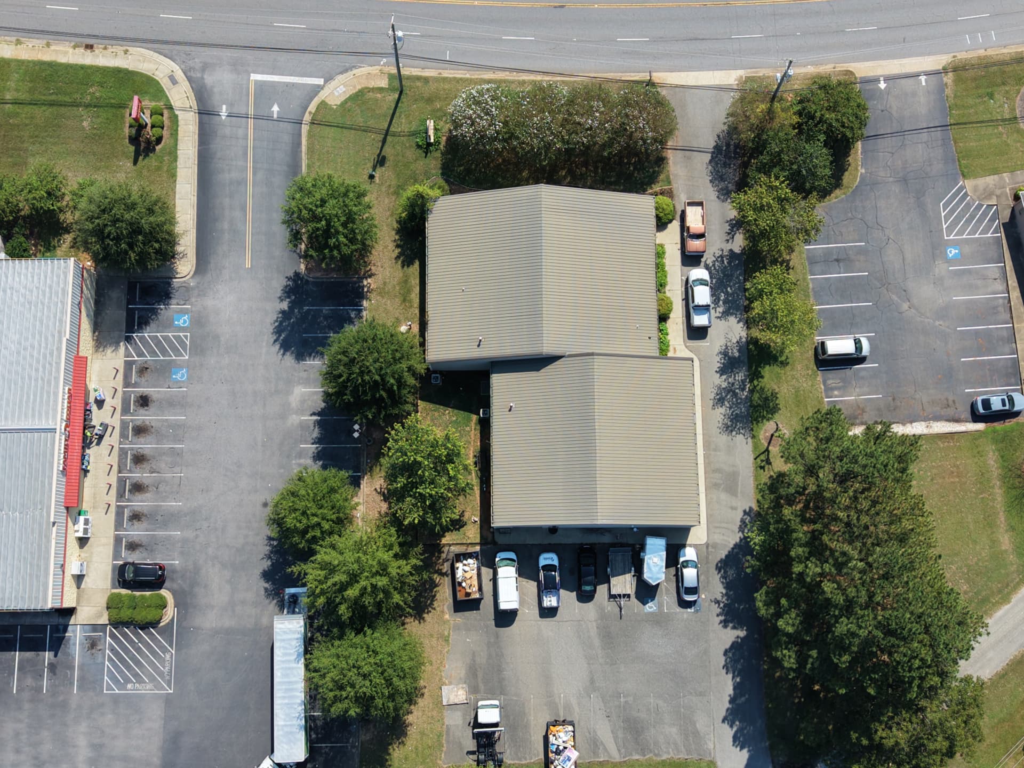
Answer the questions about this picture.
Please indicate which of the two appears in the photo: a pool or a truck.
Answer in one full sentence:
There is a truck in the scene.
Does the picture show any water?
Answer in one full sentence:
No, the scene doesn't show any water.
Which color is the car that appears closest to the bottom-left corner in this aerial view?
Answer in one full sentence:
From above, the car that appears closest to the bottom-left corner appears black.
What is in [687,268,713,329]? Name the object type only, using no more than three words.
truck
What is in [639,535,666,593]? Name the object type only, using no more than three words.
trailer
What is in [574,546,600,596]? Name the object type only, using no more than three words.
car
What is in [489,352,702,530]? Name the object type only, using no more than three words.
building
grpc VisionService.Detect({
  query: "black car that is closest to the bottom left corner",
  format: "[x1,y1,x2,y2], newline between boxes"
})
[117,561,169,588]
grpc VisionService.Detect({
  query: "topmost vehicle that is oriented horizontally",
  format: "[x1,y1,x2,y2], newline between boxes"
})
[814,334,871,361]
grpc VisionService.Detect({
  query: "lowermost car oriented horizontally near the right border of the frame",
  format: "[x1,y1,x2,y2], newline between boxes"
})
[970,391,1024,419]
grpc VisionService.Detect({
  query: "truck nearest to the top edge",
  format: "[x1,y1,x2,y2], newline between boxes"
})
[684,200,709,256]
